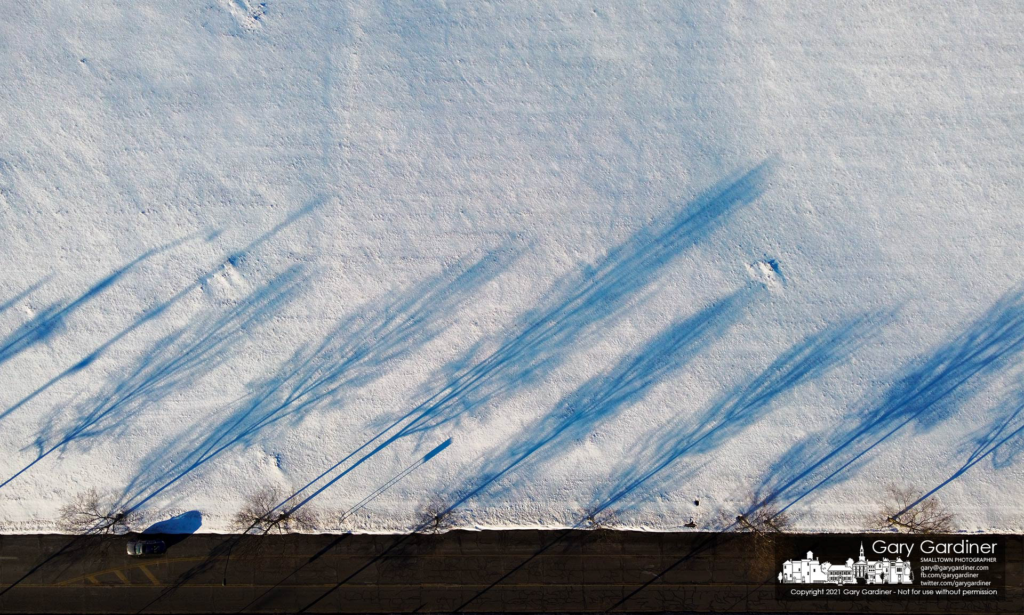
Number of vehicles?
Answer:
1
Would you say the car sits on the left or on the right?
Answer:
left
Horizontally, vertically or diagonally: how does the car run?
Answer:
horizontally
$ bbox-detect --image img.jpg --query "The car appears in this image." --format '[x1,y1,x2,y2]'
[127,539,168,560]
